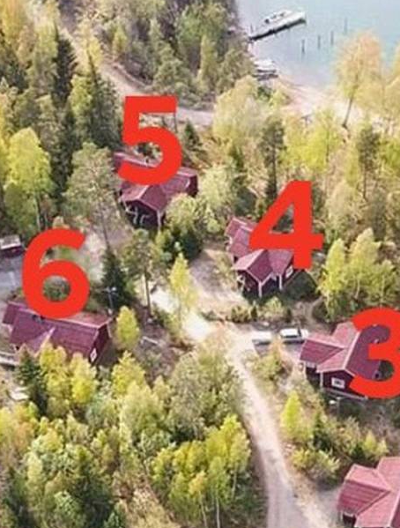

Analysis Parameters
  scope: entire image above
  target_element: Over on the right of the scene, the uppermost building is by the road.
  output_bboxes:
[221,213,307,291]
